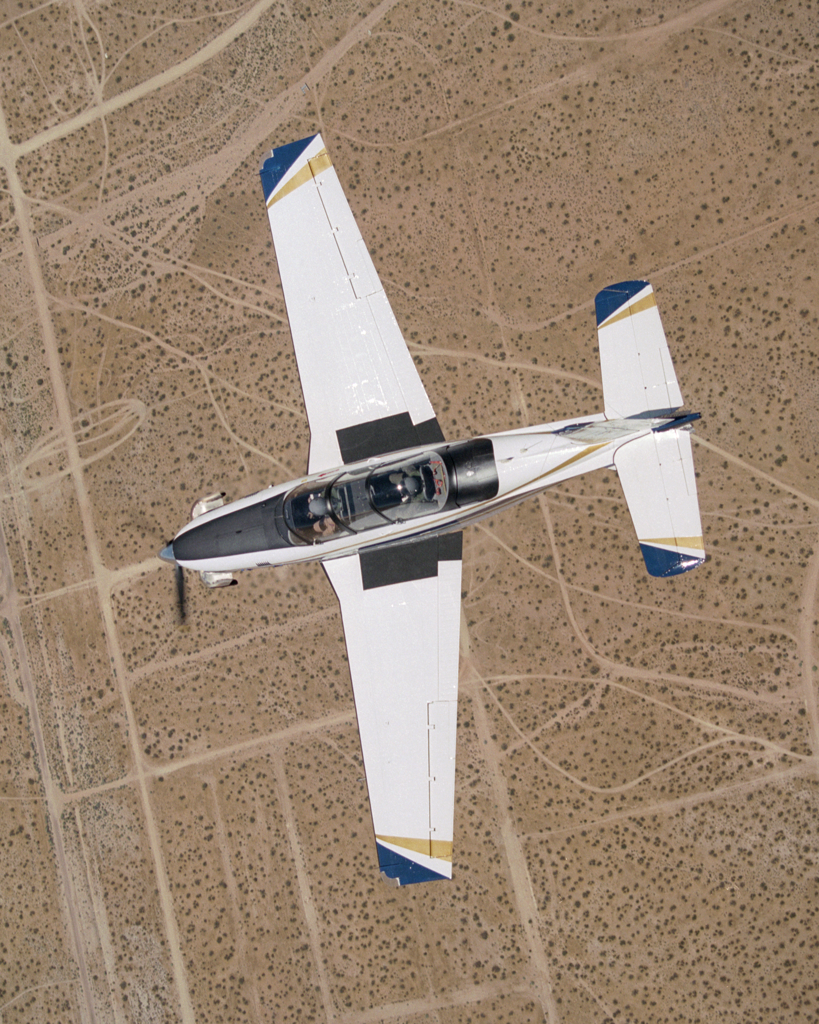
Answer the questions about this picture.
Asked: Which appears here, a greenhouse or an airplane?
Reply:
airplane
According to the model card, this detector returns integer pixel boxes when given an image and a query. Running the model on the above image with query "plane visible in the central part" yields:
[145,133,705,886]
